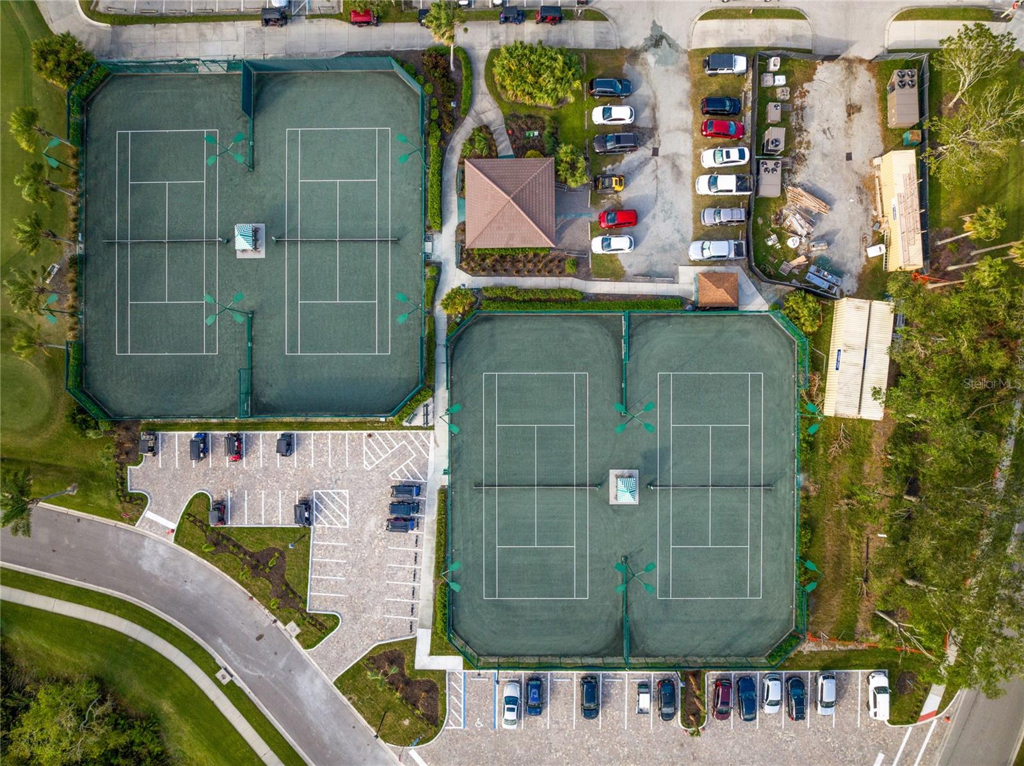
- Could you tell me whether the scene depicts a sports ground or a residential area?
sports ground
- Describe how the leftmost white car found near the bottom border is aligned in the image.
from top to bottom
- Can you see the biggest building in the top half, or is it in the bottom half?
top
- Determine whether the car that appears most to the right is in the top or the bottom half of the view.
bottom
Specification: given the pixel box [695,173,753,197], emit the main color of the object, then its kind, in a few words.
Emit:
white truck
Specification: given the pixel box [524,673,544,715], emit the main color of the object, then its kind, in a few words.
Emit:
blue car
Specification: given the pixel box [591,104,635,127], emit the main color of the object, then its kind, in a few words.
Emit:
white car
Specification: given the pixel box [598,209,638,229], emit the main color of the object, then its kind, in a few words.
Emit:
red car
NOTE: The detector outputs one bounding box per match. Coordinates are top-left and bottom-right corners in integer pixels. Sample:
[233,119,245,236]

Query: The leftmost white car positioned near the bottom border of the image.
[502,679,522,728]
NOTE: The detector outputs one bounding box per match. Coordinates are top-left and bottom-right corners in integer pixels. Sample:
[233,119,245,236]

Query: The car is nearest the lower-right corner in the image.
[865,670,892,724]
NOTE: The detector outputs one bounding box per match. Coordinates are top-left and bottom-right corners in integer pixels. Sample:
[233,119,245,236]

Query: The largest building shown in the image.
[464,157,557,252]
